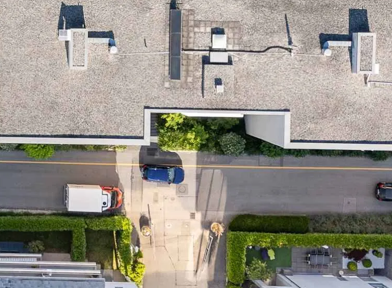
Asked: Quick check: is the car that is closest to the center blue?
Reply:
Yes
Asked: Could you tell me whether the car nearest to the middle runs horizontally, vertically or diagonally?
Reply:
horizontally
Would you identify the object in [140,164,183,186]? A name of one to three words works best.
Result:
car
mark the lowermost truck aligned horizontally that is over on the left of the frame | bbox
[64,185,127,215]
